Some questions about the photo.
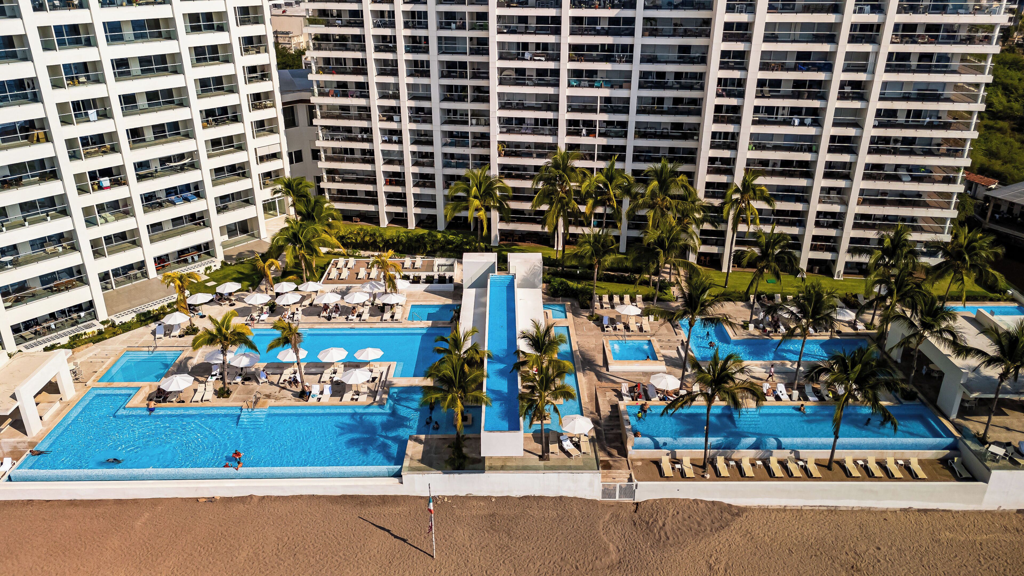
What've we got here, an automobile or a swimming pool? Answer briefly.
swimming pool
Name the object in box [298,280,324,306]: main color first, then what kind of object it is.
white umbrella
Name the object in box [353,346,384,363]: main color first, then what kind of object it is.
white umbrella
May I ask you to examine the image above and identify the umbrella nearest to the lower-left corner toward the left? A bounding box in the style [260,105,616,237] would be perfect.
[160,374,195,402]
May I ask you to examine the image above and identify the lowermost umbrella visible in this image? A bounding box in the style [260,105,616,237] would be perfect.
[558,413,593,434]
